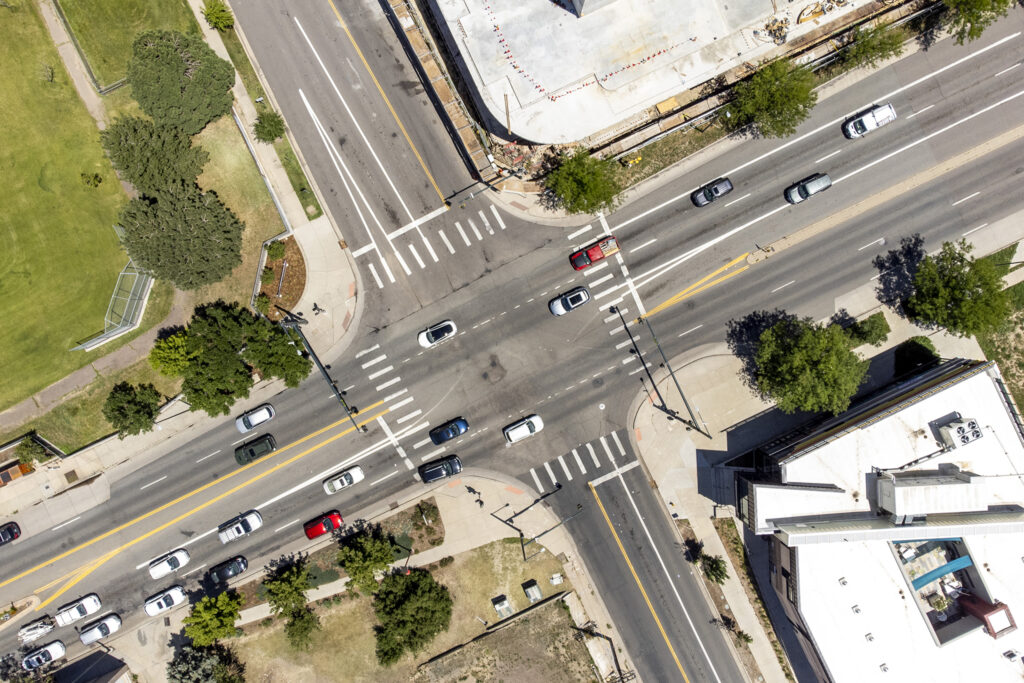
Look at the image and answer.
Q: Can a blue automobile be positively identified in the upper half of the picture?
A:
No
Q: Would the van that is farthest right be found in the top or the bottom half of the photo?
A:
top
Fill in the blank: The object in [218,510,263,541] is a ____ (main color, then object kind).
white car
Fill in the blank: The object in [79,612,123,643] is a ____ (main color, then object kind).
white car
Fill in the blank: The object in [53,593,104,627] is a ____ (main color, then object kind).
white truck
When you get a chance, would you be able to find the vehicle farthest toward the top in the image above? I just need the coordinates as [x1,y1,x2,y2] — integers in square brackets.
[842,102,896,139]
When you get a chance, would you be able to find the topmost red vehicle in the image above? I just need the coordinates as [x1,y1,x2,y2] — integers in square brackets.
[569,235,622,269]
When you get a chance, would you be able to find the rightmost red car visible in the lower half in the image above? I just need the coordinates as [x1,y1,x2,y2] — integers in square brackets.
[304,510,344,539]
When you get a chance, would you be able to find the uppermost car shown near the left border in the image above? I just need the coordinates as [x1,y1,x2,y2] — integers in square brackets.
[0,520,20,542]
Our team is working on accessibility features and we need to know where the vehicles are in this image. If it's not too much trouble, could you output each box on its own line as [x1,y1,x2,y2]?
[208,555,250,584]
[79,612,123,643]
[419,456,463,481]
[550,286,591,315]
[569,235,622,269]
[503,413,543,443]
[144,584,187,615]
[418,319,459,347]
[236,433,278,462]
[785,172,831,203]
[0,520,20,542]
[428,418,470,446]
[690,178,733,207]
[53,593,104,627]
[236,402,278,431]
[23,640,68,671]
[304,510,344,539]
[218,510,263,541]
[842,102,896,139]
[148,549,191,578]
[323,466,366,495]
